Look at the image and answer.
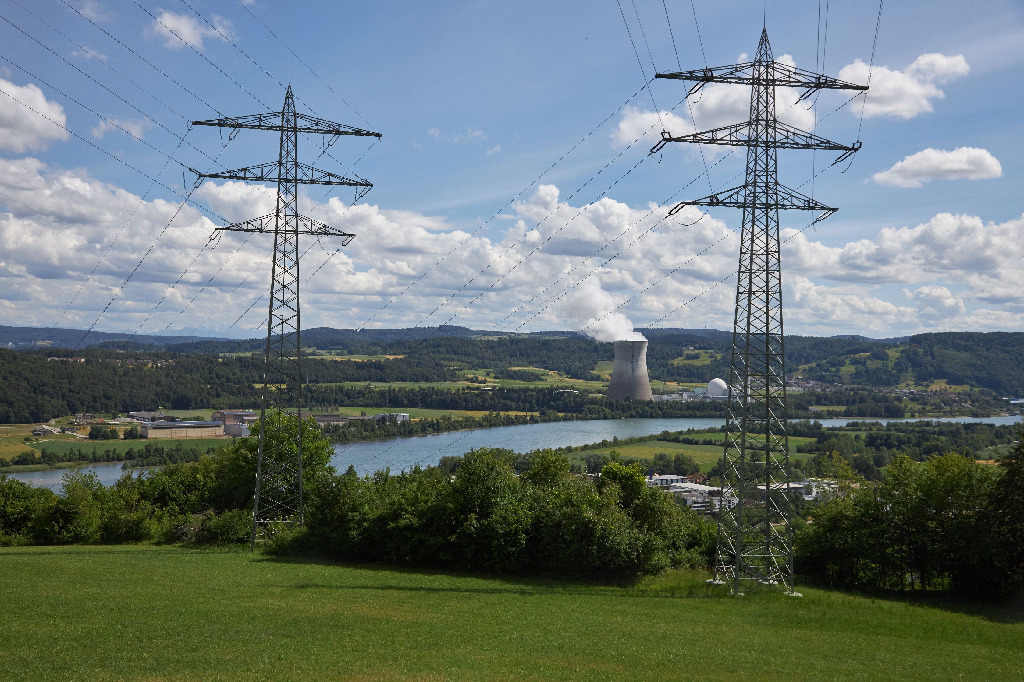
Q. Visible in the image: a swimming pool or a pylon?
pylon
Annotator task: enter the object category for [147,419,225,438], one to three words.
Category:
building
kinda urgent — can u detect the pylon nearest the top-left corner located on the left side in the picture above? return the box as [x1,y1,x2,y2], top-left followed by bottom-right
[173,55,381,545]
